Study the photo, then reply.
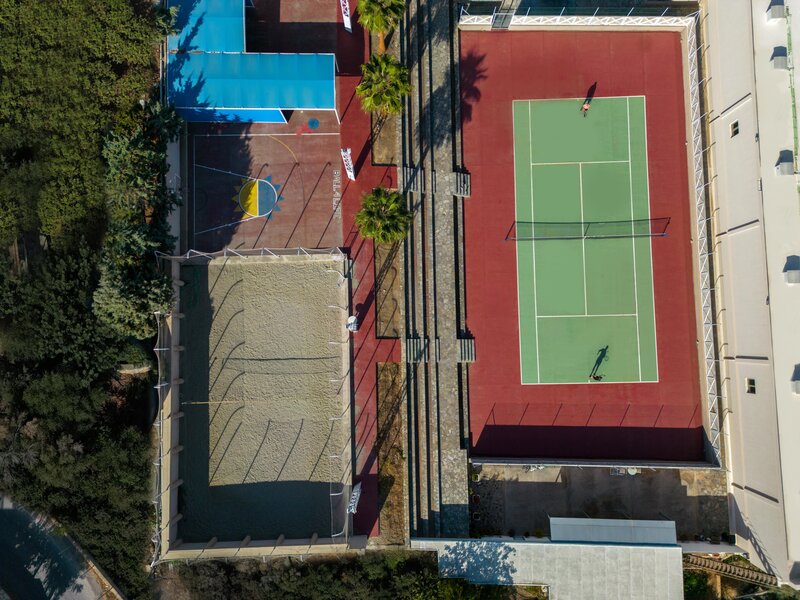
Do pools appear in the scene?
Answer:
No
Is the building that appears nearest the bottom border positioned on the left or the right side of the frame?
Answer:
right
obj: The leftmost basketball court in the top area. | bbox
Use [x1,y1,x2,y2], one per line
[175,0,342,255]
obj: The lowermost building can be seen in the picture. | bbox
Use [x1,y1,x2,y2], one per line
[410,531,688,600]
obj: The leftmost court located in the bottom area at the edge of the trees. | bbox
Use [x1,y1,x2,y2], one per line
[181,263,344,538]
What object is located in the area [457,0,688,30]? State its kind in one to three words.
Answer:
sports court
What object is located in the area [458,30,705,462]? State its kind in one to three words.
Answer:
tennis court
